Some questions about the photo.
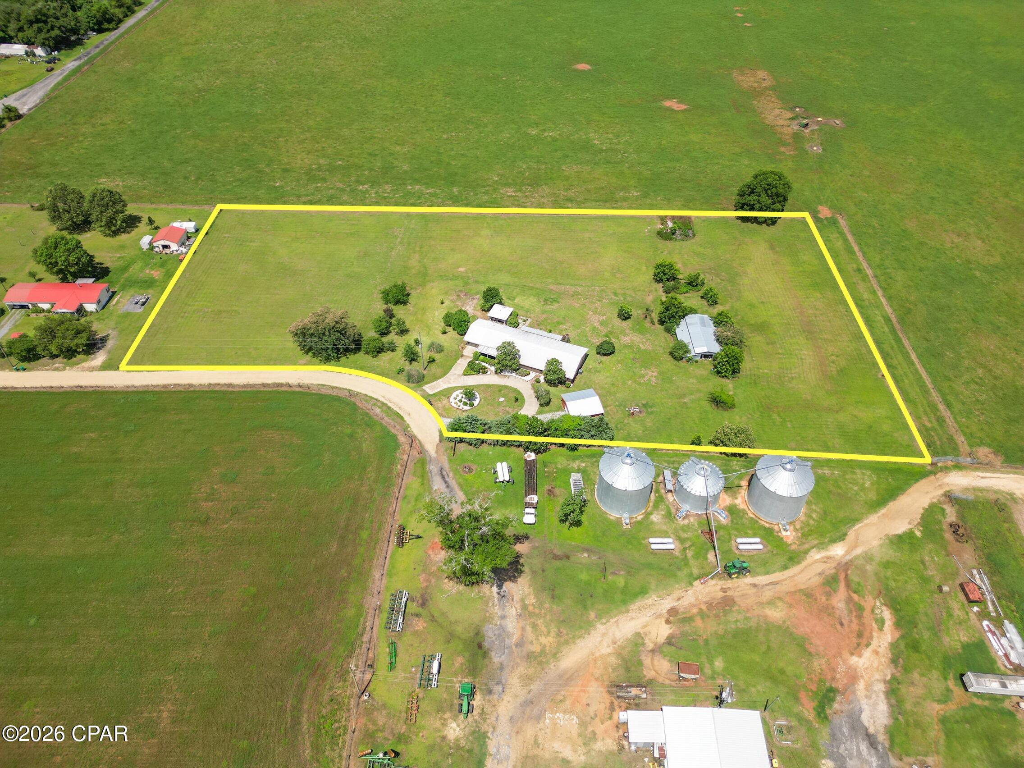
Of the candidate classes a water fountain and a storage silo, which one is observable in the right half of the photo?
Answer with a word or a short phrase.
storage silo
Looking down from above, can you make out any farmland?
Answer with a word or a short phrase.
Yes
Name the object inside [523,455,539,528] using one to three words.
vehicle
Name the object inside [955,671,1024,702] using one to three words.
trailer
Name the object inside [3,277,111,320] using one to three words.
house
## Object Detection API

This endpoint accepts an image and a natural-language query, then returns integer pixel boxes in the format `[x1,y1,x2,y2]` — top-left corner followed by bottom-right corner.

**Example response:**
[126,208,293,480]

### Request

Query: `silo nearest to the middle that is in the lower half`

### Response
[593,446,657,519]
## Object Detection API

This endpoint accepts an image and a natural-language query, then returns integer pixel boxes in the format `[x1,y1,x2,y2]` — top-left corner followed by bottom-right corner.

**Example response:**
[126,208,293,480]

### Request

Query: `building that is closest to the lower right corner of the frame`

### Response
[661,705,771,768]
